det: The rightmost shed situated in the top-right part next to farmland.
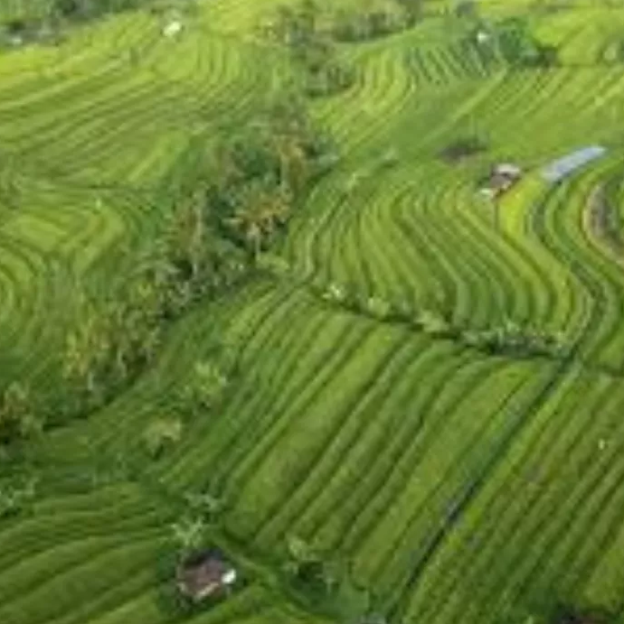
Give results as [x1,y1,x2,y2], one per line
[542,147,609,182]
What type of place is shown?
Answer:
farmland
